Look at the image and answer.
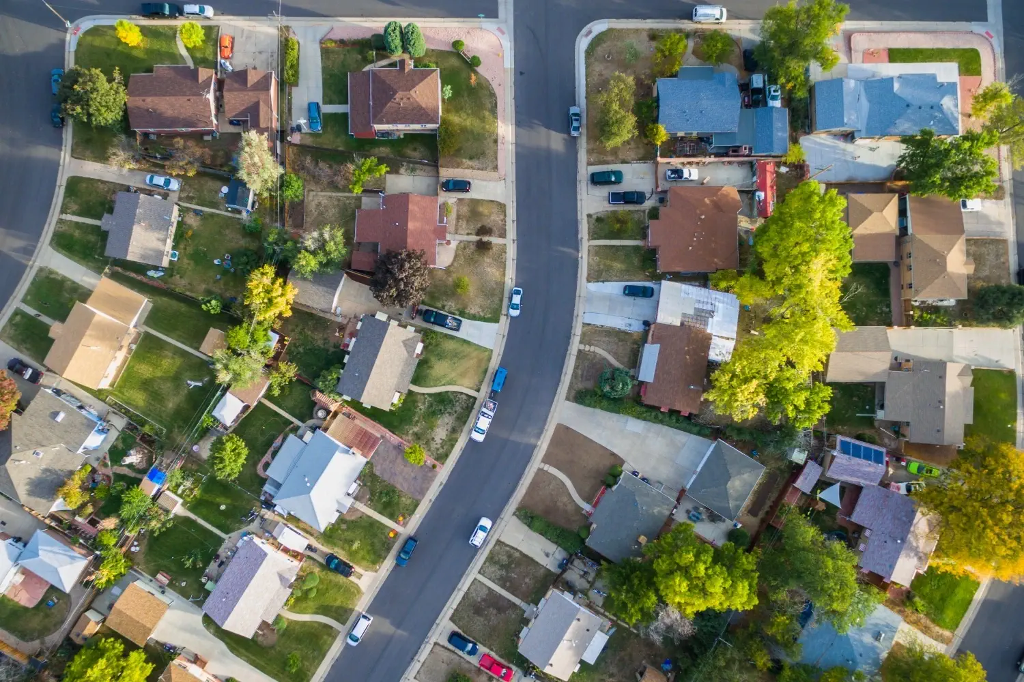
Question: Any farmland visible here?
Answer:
No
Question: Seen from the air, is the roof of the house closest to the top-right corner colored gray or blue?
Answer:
blue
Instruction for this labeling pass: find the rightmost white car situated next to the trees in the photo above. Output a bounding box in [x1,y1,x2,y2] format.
[963,197,982,211]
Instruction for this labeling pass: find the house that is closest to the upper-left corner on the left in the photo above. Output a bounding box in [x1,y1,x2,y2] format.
[123,64,221,132]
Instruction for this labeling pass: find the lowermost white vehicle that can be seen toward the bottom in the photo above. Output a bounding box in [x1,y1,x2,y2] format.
[348,611,372,646]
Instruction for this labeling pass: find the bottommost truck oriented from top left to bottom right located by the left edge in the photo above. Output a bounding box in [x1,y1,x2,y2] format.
[5,357,45,386]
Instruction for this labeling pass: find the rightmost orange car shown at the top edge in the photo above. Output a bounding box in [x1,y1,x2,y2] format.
[219,34,234,61]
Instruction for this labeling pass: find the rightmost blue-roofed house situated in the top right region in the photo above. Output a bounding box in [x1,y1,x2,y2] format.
[811,71,958,138]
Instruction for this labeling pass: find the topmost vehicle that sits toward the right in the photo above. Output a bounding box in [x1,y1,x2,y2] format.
[691,3,728,21]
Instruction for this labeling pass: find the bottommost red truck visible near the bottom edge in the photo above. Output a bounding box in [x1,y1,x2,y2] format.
[478,655,514,680]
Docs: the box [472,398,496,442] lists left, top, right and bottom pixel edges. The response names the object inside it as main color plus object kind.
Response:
white truck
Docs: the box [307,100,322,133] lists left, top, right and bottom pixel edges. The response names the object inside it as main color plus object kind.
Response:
blue car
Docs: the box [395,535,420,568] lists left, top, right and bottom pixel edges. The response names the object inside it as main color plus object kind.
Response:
blue truck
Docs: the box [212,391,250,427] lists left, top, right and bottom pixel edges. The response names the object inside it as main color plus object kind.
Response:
white tent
